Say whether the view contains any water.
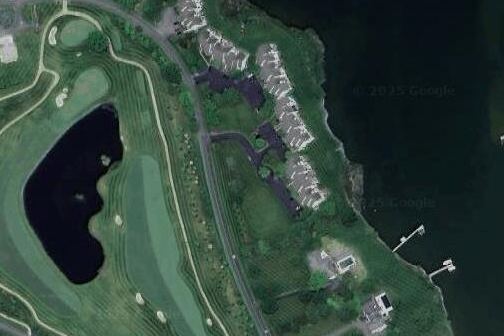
Yes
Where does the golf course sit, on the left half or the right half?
left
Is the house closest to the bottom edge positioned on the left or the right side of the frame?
right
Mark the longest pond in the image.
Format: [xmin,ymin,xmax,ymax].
[23,104,123,283]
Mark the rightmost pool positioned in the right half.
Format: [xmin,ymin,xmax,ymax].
[374,292,393,313]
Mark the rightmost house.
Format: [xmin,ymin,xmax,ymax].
[359,298,388,334]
